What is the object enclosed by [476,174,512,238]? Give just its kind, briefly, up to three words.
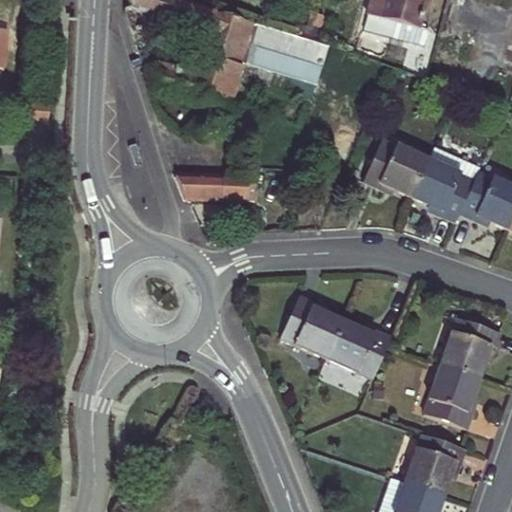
house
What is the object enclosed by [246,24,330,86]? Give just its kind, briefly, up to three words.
shed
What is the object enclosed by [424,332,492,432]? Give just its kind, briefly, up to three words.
house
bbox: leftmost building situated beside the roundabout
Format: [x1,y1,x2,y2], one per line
[176,176,255,208]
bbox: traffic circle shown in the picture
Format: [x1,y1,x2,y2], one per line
[91,238,220,366]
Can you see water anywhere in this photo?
No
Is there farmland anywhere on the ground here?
No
